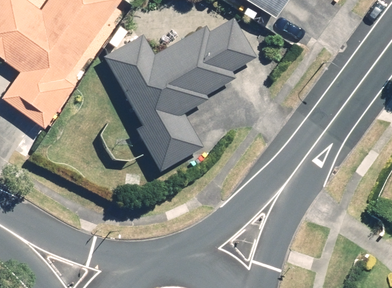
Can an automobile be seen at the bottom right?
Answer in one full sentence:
No, looking at the bottom right, there is no automobile.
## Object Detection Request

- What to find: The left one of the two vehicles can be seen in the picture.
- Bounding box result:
[272,18,306,43]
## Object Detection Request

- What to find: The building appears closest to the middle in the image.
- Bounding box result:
[103,18,258,172]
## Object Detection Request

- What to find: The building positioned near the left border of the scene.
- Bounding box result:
[0,0,122,130]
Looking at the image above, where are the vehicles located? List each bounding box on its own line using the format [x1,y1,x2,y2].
[272,18,306,43]
[363,0,391,25]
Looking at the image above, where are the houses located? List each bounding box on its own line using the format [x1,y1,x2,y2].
[0,0,122,130]
[103,18,258,172]
[247,0,288,18]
